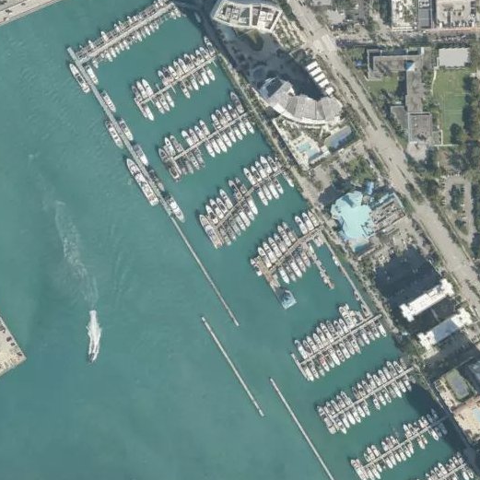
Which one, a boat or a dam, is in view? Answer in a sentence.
The image shows a boat.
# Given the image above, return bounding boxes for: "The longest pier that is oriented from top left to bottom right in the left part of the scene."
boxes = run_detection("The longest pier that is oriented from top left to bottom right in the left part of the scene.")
[67,46,173,217]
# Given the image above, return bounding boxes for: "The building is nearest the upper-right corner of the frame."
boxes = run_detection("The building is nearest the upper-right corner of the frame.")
[436,0,475,28]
